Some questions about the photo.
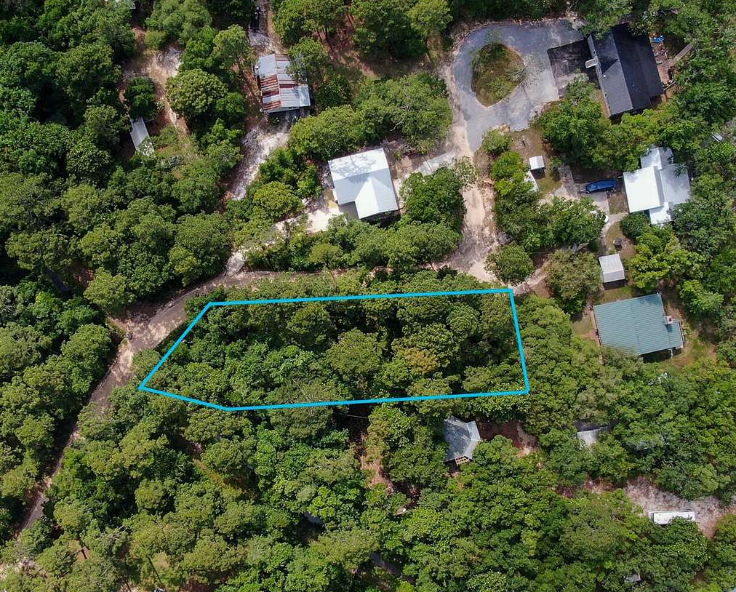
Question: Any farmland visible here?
No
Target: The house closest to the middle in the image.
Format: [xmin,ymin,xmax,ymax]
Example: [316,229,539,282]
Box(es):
[328,148,397,217]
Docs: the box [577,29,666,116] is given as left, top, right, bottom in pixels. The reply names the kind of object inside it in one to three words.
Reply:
house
